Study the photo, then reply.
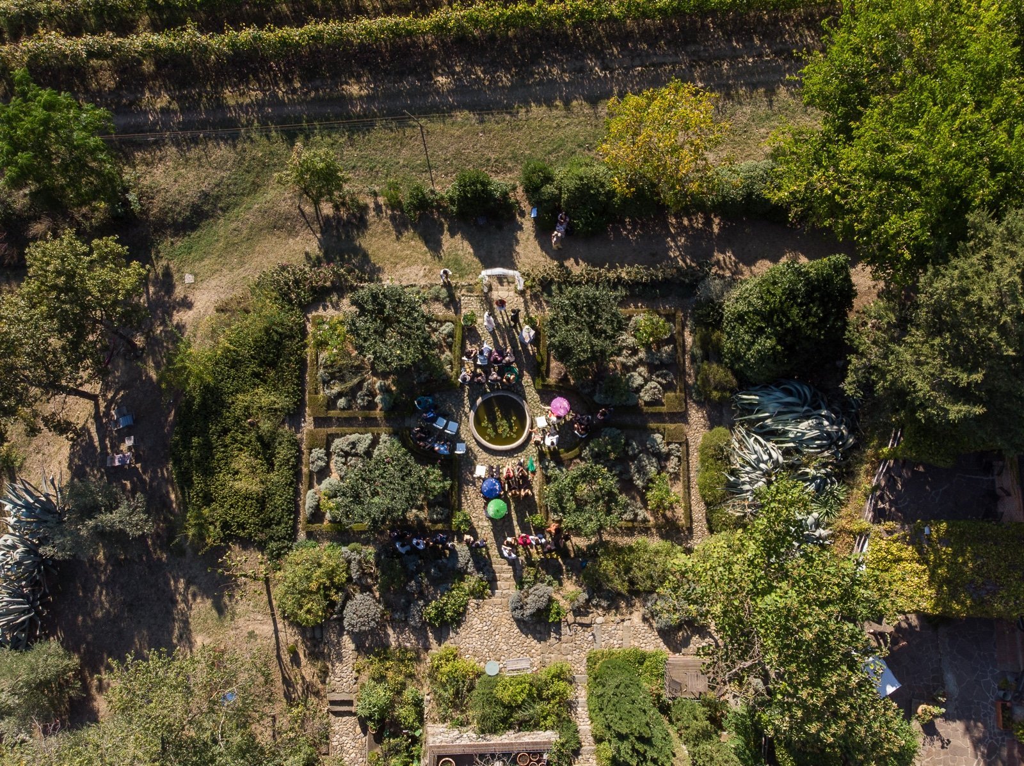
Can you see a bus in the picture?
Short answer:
No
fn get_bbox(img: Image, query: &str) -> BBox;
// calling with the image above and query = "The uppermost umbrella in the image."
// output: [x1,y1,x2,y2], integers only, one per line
[549,398,569,418]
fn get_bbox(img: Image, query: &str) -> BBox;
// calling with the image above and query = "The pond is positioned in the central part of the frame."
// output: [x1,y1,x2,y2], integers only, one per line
[469,391,532,453]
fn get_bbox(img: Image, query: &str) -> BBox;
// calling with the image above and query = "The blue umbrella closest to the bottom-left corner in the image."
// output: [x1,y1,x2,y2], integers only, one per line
[482,479,502,499]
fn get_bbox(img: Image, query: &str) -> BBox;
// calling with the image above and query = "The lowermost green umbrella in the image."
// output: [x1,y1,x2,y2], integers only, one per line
[487,500,508,521]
